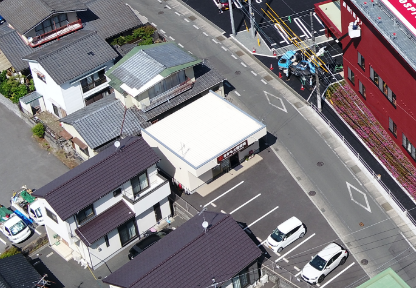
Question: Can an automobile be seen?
Yes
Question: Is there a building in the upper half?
Yes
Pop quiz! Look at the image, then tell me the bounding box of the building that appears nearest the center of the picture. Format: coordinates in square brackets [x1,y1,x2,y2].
[140,95,272,200]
